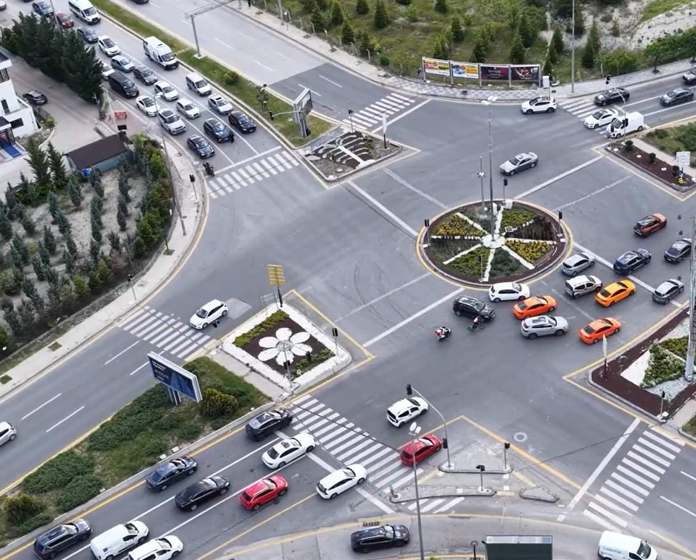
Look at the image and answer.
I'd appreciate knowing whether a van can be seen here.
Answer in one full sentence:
Yes, this view includes a van.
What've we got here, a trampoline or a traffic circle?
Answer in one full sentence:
I can see a traffic circle in this picture.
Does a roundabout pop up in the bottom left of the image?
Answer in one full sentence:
No, no roundabout can be made out in the bottom left of the image.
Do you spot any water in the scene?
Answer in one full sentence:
No, there is no water in the image.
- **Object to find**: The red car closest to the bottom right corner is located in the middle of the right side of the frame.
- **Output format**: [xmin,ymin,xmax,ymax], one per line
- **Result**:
[577,319,624,344]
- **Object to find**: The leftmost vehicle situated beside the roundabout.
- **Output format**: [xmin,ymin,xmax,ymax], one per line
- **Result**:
[451,294,496,322]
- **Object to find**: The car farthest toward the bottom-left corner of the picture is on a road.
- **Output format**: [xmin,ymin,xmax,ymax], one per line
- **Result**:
[31,519,96,560]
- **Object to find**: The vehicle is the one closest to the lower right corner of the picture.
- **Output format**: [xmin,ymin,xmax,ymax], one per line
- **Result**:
[596,529,659,560]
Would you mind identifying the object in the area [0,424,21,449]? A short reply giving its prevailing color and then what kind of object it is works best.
gray car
